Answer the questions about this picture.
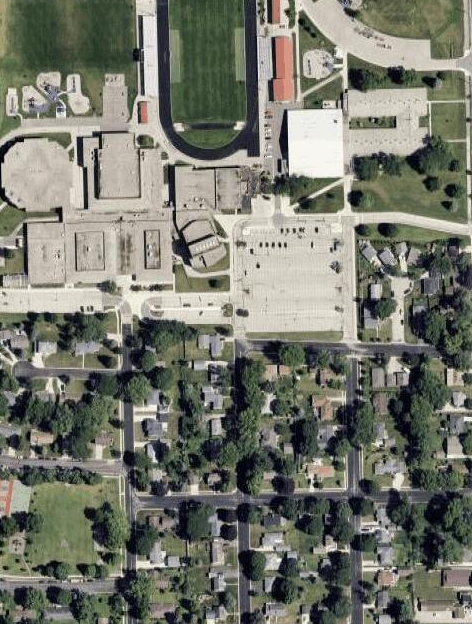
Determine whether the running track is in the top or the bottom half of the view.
top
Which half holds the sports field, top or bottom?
top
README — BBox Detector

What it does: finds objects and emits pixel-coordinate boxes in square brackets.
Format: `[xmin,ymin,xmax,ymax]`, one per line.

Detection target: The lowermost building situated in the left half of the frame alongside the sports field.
[1,133,240,285]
